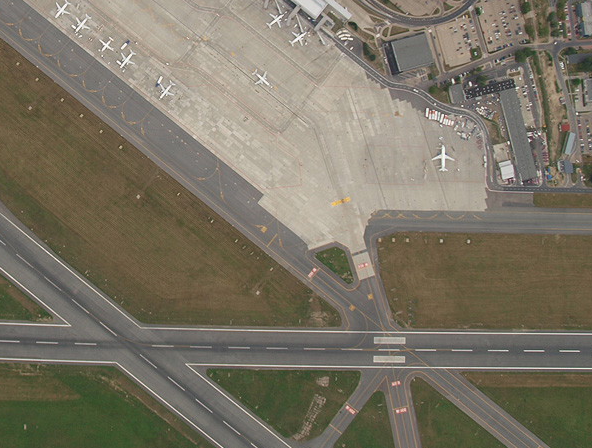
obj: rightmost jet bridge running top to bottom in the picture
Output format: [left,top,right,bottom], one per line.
[314,18,326,45]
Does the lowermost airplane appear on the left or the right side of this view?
right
